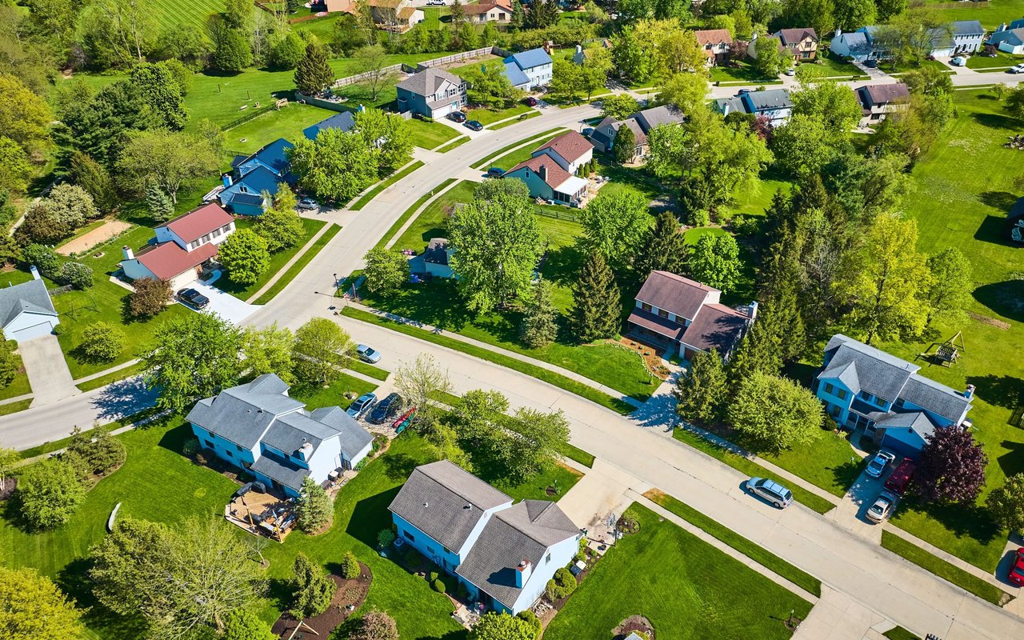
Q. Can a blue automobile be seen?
Yes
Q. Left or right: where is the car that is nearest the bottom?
right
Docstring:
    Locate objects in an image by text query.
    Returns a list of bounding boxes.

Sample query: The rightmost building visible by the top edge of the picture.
[981,13,1024,57]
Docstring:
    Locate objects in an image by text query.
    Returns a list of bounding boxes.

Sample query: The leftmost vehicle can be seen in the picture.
[178,288,208,309]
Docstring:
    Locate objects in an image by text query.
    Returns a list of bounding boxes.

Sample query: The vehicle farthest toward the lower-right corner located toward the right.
[1002,546,1024,585]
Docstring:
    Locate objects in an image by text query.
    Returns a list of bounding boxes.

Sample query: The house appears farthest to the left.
[0,266,62,344]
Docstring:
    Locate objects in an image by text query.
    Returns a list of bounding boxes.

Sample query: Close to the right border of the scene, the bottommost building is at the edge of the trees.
[809,334,974,456]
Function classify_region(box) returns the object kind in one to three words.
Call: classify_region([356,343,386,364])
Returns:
car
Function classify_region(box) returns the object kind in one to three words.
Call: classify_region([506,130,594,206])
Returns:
house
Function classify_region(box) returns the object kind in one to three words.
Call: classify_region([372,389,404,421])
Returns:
car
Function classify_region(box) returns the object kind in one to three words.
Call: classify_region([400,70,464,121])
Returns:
house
